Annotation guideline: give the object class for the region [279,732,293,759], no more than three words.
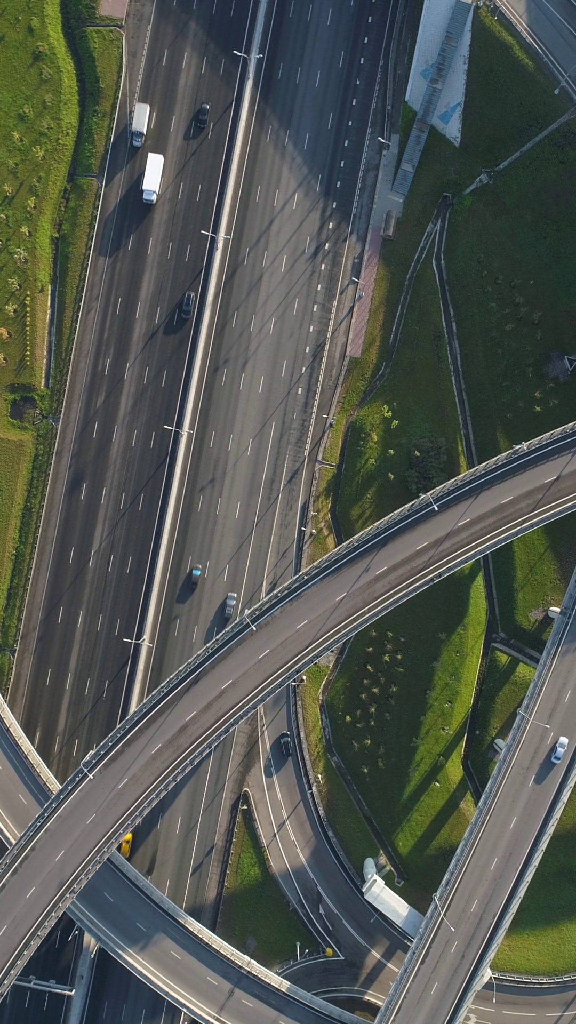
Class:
car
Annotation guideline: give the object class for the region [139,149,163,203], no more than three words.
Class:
truck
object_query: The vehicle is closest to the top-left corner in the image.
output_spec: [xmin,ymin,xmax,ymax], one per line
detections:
[128,98,148,147]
